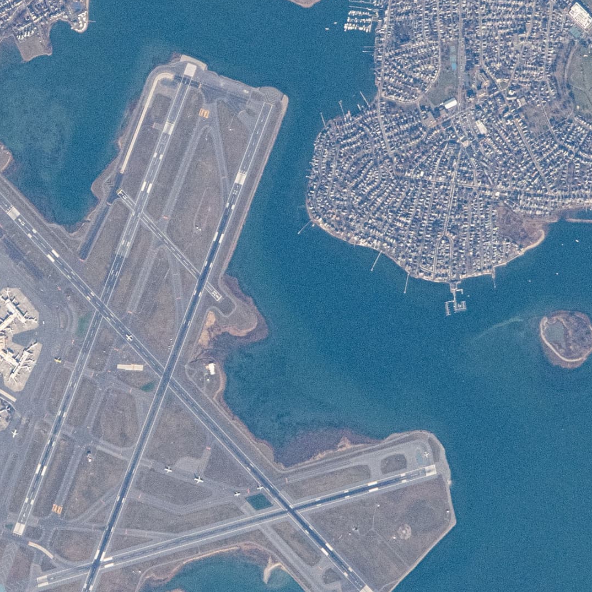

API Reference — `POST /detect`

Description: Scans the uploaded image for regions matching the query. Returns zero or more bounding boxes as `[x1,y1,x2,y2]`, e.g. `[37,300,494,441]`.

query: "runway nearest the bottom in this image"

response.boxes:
[35,460,438,592]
